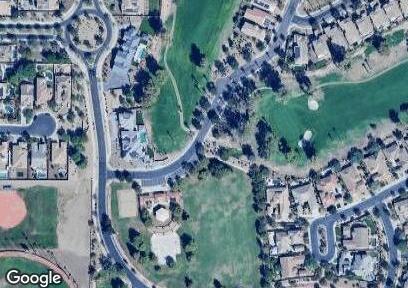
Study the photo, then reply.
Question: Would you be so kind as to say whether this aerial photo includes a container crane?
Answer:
No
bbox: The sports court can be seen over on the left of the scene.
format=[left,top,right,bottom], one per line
[118,189,138,218]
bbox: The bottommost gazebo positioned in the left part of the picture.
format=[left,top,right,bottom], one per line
[156,208,169,223]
